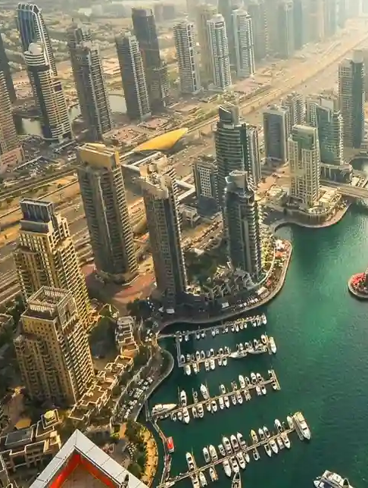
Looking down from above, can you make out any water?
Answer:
Yes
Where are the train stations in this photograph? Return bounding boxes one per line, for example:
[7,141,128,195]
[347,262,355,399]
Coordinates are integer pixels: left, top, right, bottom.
[131,127,193,153]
